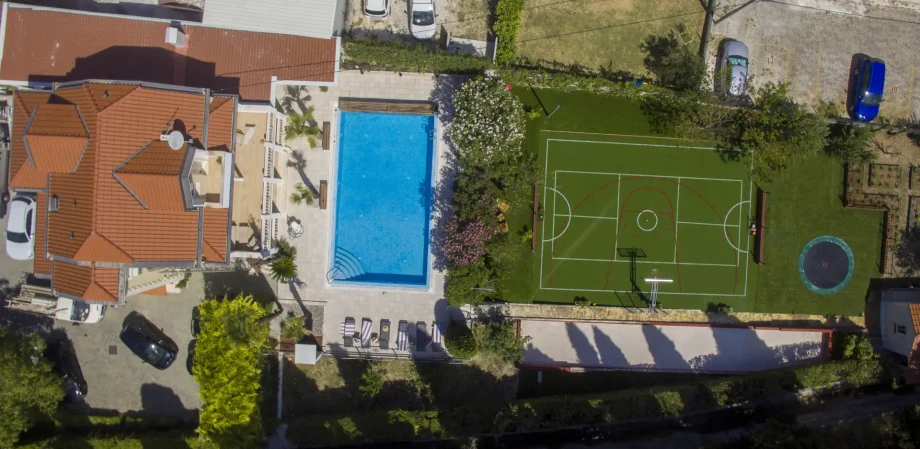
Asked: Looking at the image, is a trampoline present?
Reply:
Yes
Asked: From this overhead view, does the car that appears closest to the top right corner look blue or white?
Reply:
blue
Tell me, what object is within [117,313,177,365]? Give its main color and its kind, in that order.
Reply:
black car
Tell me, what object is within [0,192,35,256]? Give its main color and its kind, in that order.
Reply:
white car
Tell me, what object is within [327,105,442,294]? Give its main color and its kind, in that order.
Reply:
blue swimming pool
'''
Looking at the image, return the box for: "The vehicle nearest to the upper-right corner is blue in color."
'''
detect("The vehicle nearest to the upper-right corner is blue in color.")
[848,55,889,119]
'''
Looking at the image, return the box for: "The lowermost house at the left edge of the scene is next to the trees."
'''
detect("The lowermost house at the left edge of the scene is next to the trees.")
[4,79,298,306]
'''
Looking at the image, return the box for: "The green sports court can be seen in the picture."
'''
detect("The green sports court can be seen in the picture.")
[455,82,887,318]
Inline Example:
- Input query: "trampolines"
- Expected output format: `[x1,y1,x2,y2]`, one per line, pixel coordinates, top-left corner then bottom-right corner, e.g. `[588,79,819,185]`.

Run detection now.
[797,237,854,293]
